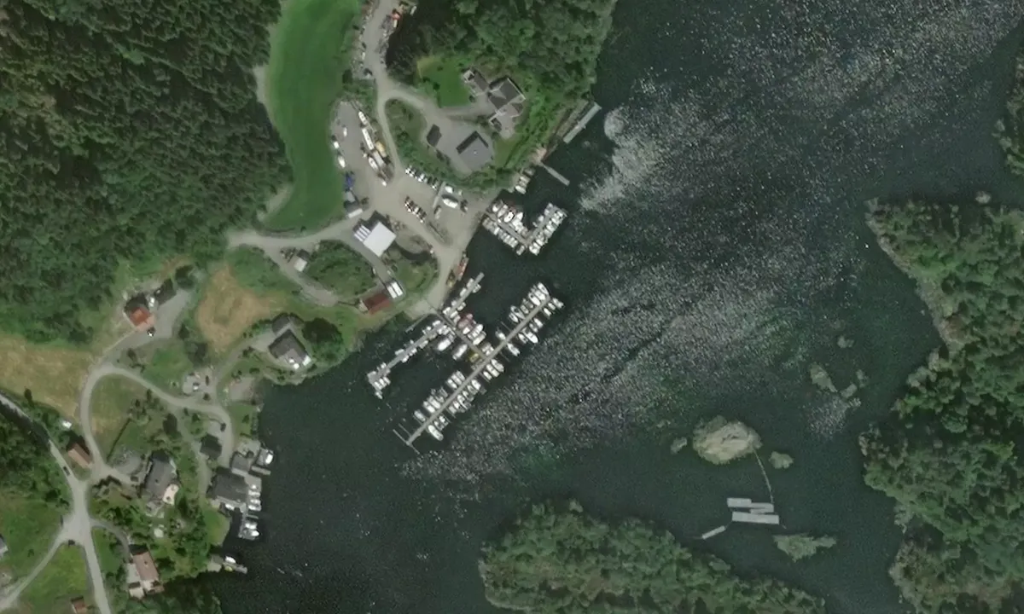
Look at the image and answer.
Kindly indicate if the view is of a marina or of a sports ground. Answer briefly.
marina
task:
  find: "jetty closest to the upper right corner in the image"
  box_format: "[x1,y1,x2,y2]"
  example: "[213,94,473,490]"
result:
[564,103,601,142]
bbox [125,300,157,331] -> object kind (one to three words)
house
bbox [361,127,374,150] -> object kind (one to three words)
vehicle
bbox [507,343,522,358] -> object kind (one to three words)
boat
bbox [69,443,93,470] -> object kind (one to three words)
barn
